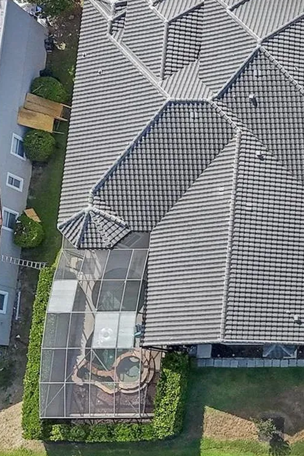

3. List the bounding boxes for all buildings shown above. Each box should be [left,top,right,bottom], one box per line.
[0,0,58,342]
[56,0,304,357]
